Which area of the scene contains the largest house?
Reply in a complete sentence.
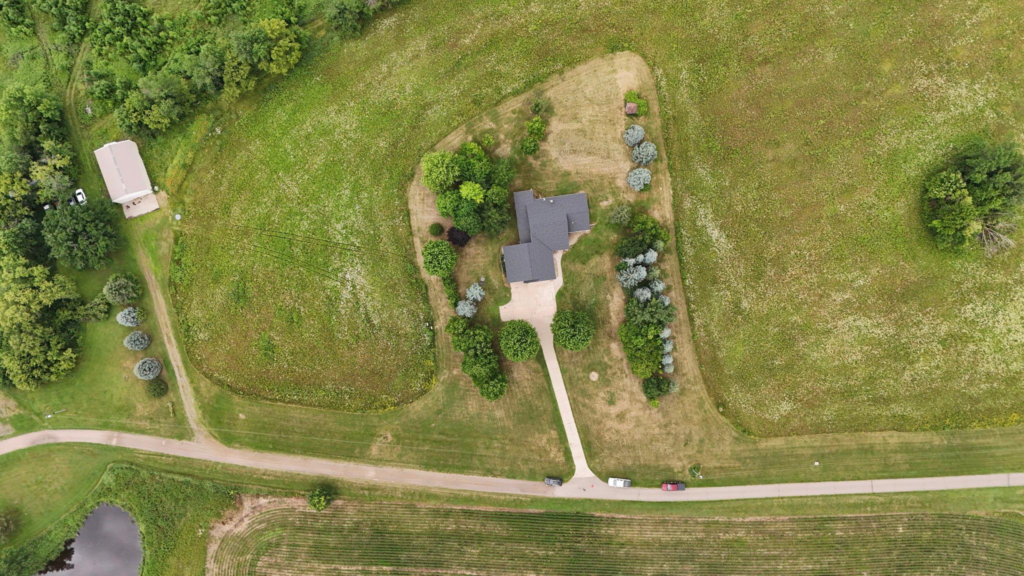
The largest house is located in the center region of the scene.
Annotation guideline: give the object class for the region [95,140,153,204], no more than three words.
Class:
barn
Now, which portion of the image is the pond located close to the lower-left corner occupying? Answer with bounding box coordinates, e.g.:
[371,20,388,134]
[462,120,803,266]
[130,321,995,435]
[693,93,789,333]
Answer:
[37,501,144,576]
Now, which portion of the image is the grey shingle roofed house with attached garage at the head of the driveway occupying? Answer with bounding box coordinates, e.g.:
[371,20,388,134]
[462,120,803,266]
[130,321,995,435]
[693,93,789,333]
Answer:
[503,190,590,284]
